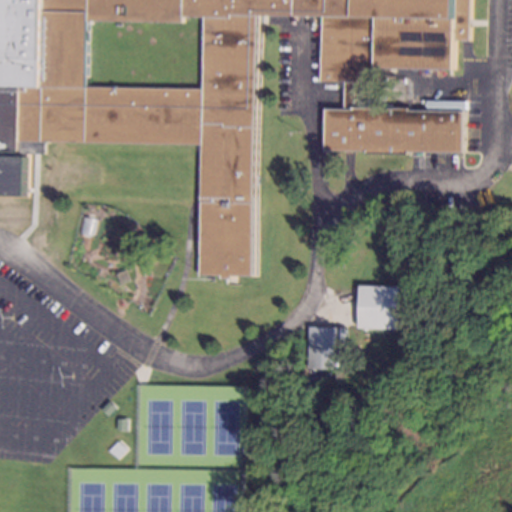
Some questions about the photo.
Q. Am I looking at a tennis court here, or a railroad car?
tennis court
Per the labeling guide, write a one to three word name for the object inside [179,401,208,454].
tennis court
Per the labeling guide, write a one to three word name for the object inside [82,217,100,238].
greenhouse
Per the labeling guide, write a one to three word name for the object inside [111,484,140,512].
tennis court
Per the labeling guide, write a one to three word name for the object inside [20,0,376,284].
building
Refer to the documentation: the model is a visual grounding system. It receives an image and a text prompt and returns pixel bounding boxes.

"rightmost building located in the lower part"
[358,286,404,331]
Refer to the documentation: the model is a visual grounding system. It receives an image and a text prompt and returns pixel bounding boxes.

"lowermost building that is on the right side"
[308,326,347,372]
